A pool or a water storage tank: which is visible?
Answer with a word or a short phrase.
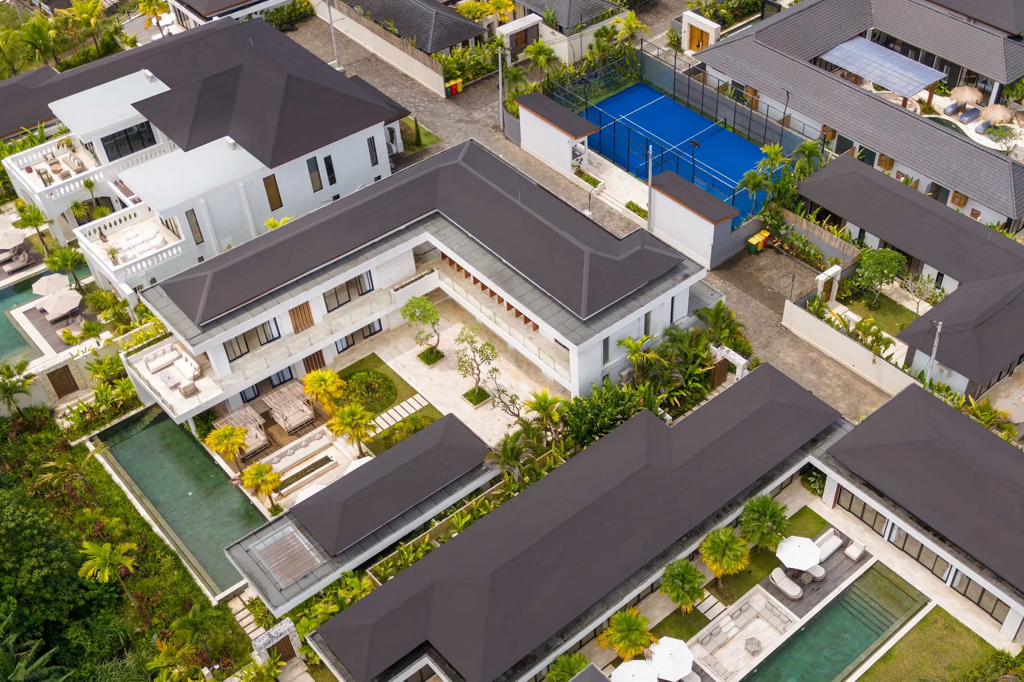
pool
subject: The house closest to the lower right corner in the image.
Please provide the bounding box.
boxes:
[809,381,1024,640]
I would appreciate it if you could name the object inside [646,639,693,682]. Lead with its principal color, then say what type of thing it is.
white umbrella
